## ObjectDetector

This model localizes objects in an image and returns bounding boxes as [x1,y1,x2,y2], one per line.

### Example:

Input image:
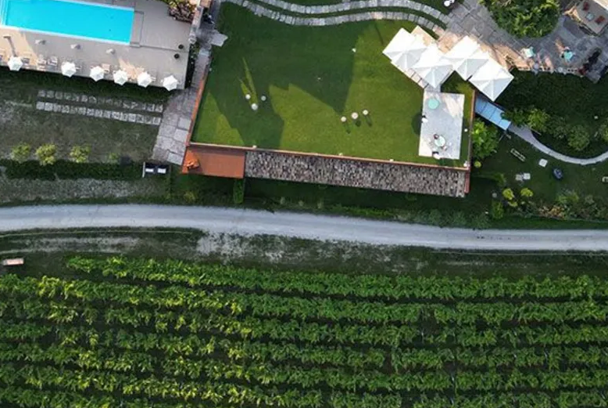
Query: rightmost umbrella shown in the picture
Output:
[469,51,515,101]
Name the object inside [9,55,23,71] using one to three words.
umbrella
